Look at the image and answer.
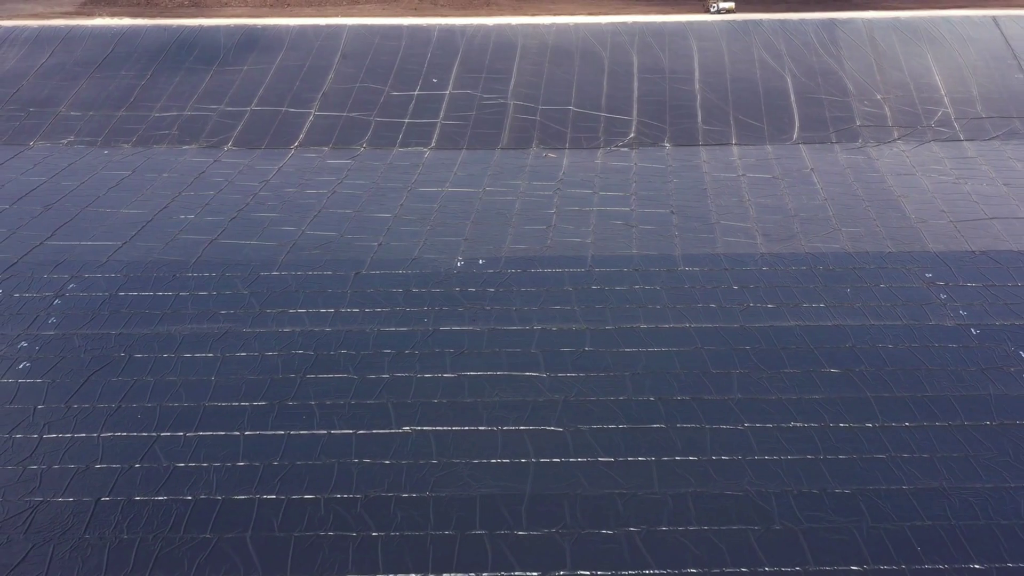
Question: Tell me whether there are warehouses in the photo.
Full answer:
No, there isn't any warehouse down there.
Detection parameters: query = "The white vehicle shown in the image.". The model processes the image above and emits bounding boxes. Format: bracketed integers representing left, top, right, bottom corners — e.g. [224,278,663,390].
[709,2,739,14]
